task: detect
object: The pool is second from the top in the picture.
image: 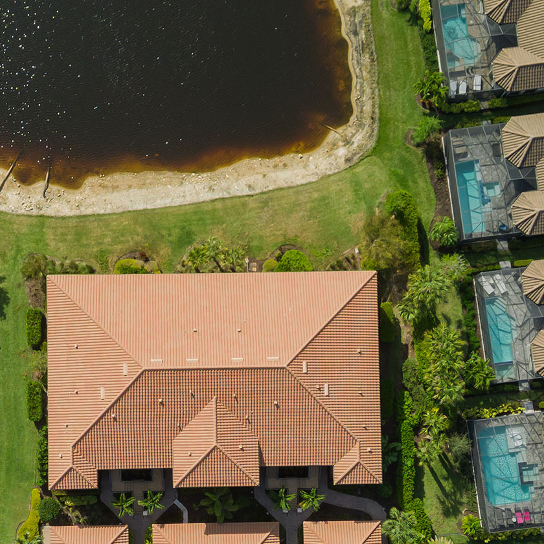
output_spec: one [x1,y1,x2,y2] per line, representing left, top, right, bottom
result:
[455,158,505,233]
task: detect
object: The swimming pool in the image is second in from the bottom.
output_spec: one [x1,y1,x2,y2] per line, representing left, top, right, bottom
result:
[485,295,519,379]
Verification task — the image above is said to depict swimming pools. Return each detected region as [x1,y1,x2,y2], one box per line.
[478,425,541,506]
[485,295,519,379]
[455,158,505,233]
[439,1,483,67]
